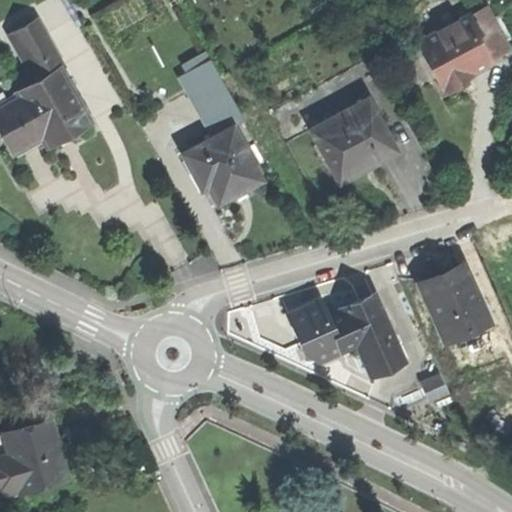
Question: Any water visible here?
No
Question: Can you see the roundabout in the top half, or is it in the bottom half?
bottom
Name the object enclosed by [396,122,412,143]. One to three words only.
car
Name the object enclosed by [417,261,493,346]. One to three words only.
house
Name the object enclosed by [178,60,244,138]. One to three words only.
building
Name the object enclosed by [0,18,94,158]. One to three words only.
house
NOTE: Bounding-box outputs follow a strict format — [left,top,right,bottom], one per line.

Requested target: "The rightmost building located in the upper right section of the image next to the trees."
[422,6,511,96]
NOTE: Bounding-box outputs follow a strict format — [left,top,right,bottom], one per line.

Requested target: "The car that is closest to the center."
[316,270,336,282]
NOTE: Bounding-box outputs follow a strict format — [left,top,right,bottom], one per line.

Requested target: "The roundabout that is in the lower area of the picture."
[120,301,226,407]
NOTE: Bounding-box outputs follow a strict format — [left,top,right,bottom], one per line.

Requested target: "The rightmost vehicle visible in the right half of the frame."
[488,66,502,88]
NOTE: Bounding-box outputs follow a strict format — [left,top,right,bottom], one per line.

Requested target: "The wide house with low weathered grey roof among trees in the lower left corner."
[0,422,72,503]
